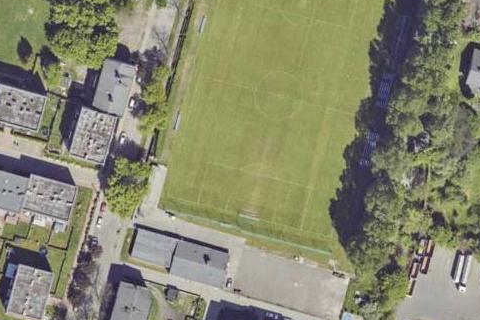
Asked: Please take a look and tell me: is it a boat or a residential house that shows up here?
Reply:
residential house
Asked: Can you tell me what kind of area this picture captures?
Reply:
sports ground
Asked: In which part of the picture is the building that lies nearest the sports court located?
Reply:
bottom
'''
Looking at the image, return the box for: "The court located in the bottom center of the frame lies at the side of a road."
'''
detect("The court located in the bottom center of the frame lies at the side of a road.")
[231,246,348,320]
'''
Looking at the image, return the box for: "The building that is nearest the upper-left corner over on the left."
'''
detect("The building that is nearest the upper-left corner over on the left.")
[0,83,48,130]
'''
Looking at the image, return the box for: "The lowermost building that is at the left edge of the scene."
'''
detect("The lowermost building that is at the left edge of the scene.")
[5,264,54,320]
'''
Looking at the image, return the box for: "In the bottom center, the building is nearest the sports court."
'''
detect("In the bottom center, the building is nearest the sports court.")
[170,240,229,287]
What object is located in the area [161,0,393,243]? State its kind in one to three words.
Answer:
soccer field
